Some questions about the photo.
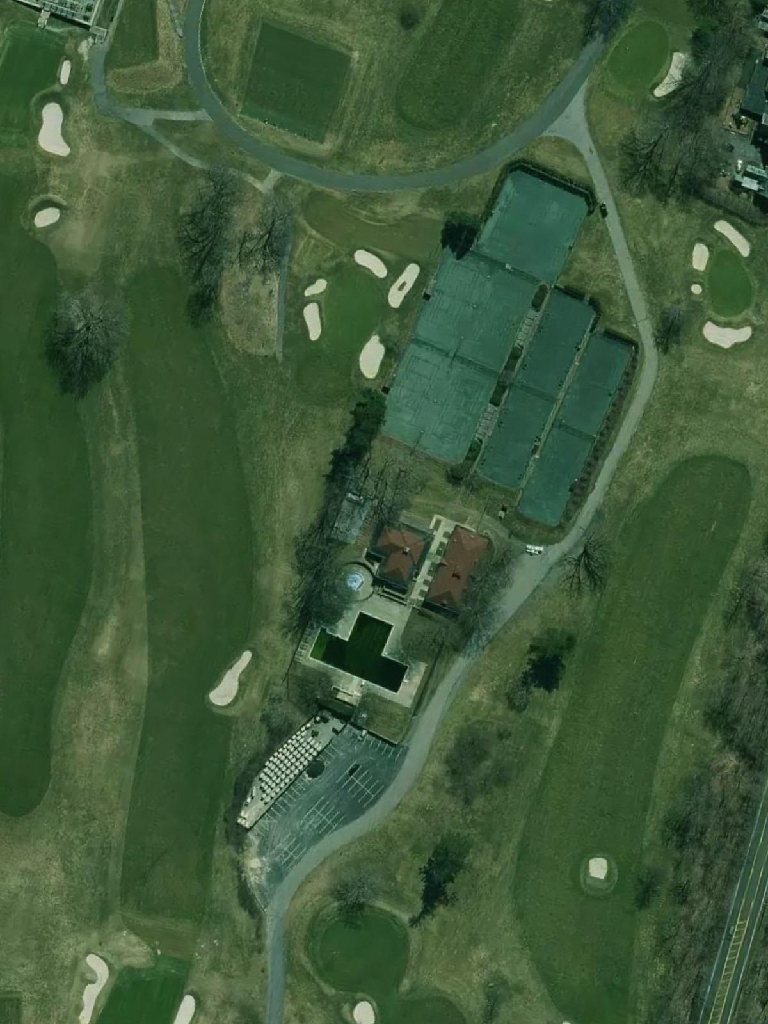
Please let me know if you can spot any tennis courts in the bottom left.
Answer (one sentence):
No, there's no tennis court to be seen in the bottom left.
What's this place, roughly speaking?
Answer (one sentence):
This image shows a golf course.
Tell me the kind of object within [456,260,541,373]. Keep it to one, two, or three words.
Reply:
tennis court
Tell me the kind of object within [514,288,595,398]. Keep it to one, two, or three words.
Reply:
tennis court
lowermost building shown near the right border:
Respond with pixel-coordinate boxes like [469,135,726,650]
[735,163,768,200]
